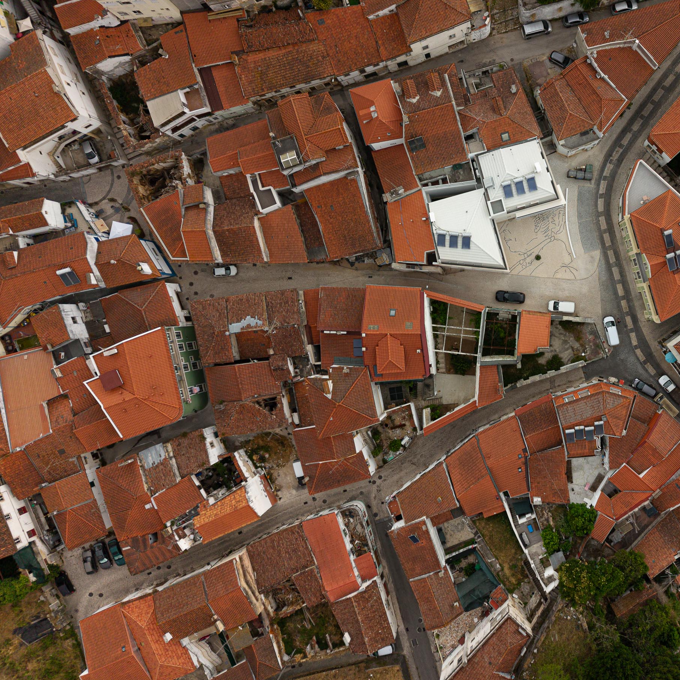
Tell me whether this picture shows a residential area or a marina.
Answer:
residential area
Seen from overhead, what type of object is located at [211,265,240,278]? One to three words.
vehicle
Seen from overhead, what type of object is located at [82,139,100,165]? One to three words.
car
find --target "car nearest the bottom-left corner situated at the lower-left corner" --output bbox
[56,569,76,597]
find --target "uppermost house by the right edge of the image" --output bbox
[577,0,680,70]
